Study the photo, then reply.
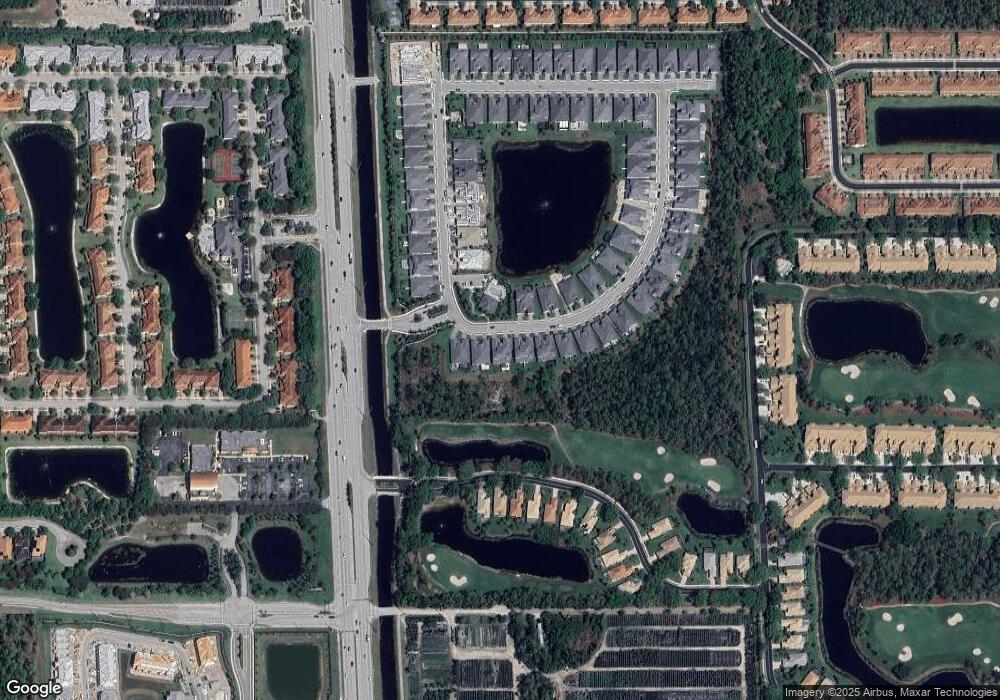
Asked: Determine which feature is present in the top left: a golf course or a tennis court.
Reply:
tennis court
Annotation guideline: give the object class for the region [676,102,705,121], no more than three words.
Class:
house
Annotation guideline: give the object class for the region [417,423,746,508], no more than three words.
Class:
golf course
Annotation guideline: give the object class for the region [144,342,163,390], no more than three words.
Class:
building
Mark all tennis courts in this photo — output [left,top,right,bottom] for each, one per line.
[213,148,243,181]
[223,306,252,336]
